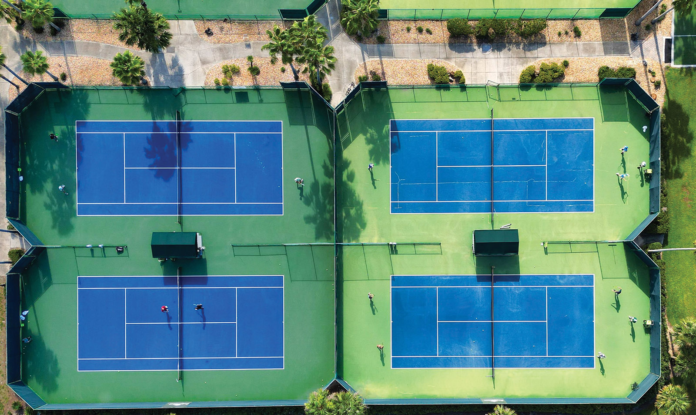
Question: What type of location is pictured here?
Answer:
sports ground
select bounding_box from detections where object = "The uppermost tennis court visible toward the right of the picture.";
[343,0,640,20]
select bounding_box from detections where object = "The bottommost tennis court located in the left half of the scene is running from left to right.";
[20,245,336,402]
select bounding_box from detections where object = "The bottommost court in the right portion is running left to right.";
[336,240,650,397]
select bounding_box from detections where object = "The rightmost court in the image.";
[674,9,696,67]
